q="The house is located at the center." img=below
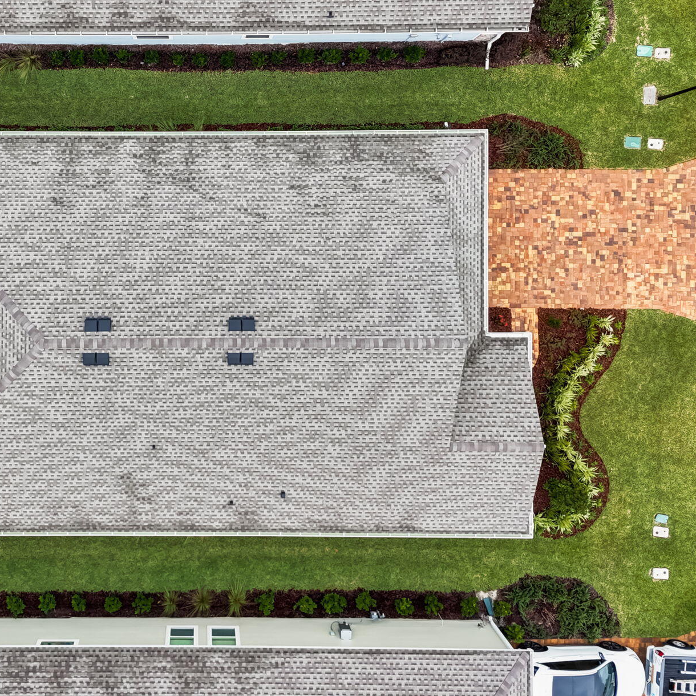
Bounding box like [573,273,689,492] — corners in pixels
[0,122,548,537]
